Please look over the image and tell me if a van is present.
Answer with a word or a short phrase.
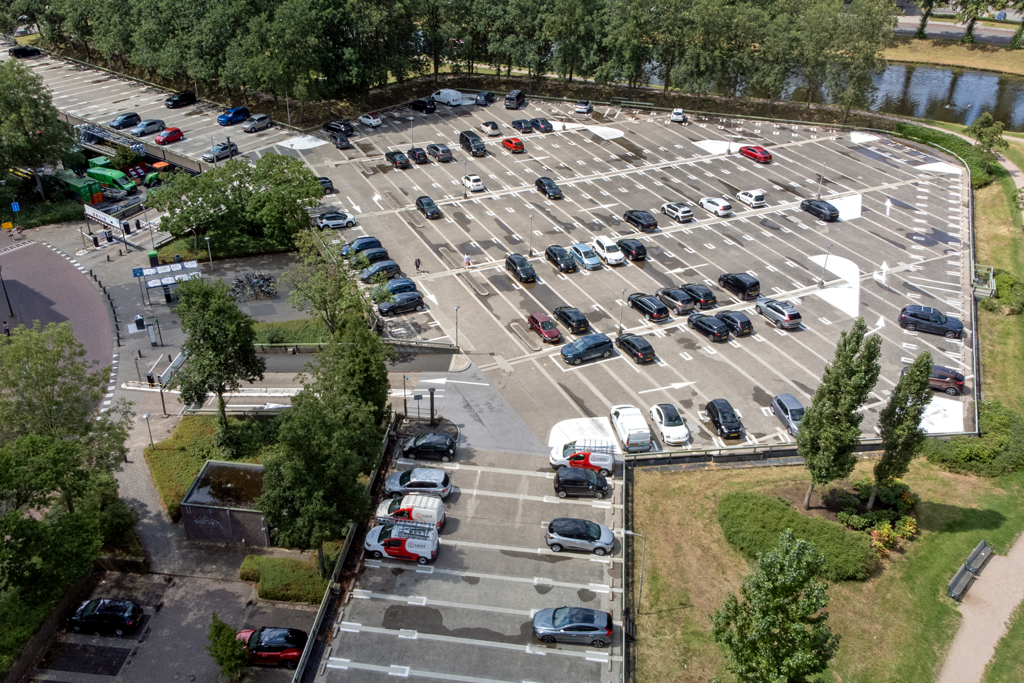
Yes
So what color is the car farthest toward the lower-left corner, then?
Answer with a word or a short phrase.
black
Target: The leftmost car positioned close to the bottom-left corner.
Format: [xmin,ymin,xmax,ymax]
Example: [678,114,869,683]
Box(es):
[59,594,150,635]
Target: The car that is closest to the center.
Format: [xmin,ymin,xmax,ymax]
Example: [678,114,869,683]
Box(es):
[526,311,563,344]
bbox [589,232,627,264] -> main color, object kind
white car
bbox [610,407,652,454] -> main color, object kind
white van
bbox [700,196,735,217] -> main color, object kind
white car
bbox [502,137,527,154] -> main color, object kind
red car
